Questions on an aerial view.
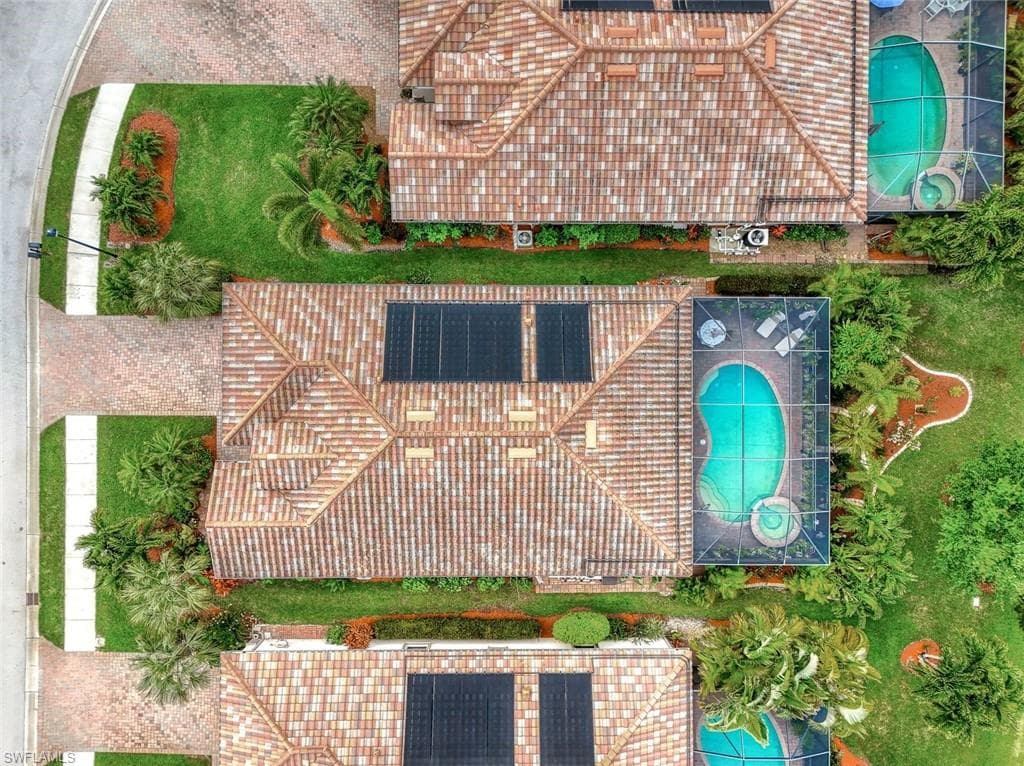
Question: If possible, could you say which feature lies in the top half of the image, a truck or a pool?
pool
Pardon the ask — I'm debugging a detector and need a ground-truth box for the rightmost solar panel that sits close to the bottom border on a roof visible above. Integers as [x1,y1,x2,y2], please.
[534,672,597,766]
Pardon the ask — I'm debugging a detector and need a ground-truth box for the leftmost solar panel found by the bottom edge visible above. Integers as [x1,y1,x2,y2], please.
[401,672,516,766]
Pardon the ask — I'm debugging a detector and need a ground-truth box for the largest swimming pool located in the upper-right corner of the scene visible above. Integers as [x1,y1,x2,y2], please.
[868,31,953,201]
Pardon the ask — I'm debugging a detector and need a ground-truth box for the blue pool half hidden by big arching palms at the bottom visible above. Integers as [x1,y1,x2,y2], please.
[693,707,789,766]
